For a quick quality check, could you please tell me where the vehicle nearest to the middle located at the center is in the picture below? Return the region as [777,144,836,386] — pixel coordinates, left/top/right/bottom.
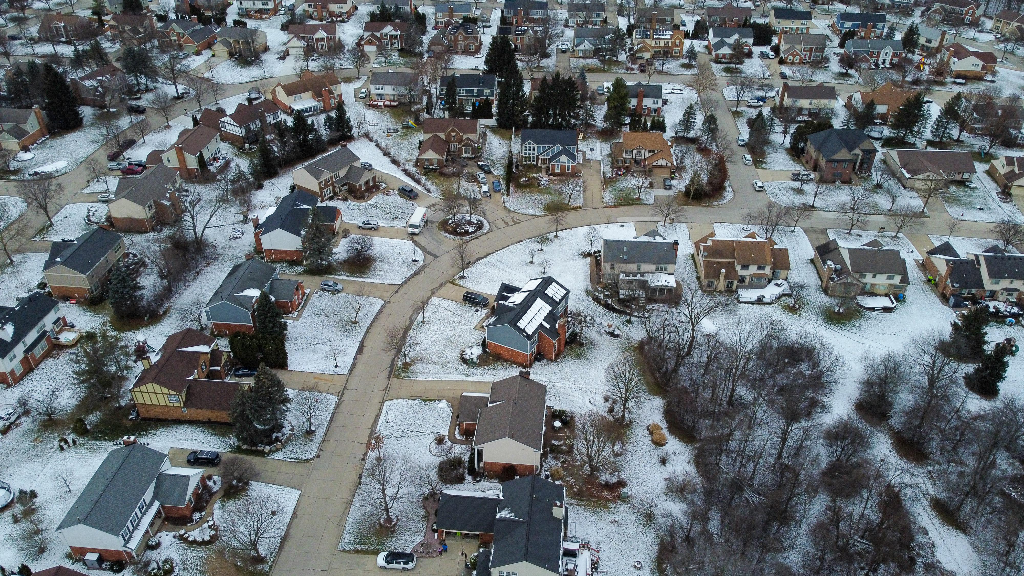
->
[461,289,490,306]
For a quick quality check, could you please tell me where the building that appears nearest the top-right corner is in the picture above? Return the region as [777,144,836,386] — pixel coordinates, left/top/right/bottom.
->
[992,10,1024,43]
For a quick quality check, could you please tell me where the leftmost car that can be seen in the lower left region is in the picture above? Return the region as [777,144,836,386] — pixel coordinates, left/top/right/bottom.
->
[183,448,222,466]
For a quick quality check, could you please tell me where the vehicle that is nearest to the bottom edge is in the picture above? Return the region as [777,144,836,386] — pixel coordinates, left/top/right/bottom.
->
[375,550,417,571]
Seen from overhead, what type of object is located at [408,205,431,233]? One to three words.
truck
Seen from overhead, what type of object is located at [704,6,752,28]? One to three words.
house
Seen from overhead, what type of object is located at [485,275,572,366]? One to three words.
house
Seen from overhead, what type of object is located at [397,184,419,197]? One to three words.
vehicle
